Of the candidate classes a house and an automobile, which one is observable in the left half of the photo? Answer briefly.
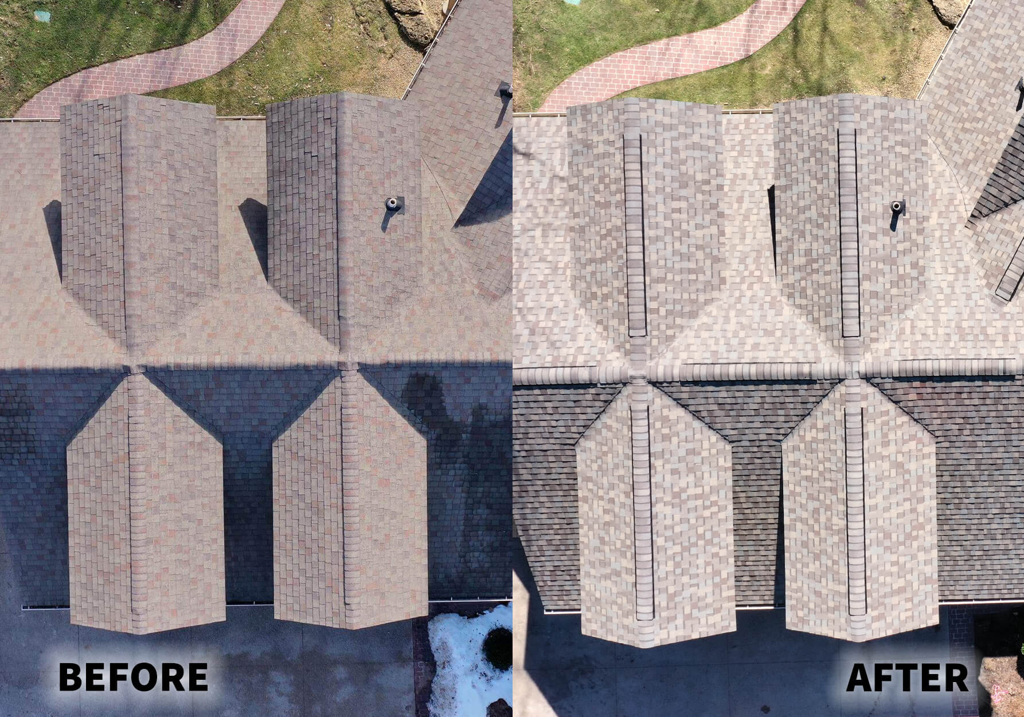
house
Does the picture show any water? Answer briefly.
No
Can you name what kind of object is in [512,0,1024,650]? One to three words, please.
house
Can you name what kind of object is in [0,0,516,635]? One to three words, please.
house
